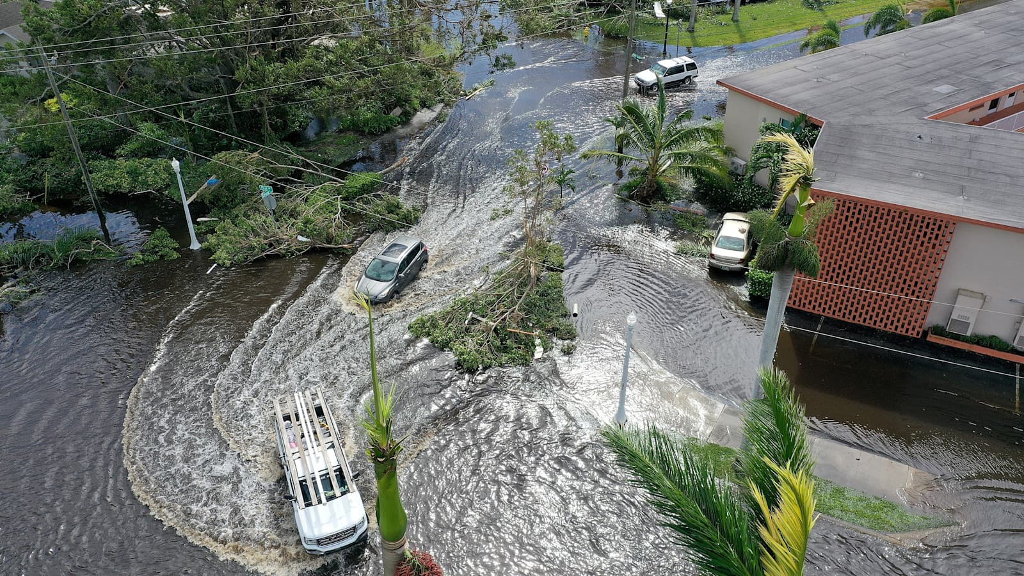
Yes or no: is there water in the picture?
Yes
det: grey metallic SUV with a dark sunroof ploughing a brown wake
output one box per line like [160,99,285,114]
[350,237,429,313]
